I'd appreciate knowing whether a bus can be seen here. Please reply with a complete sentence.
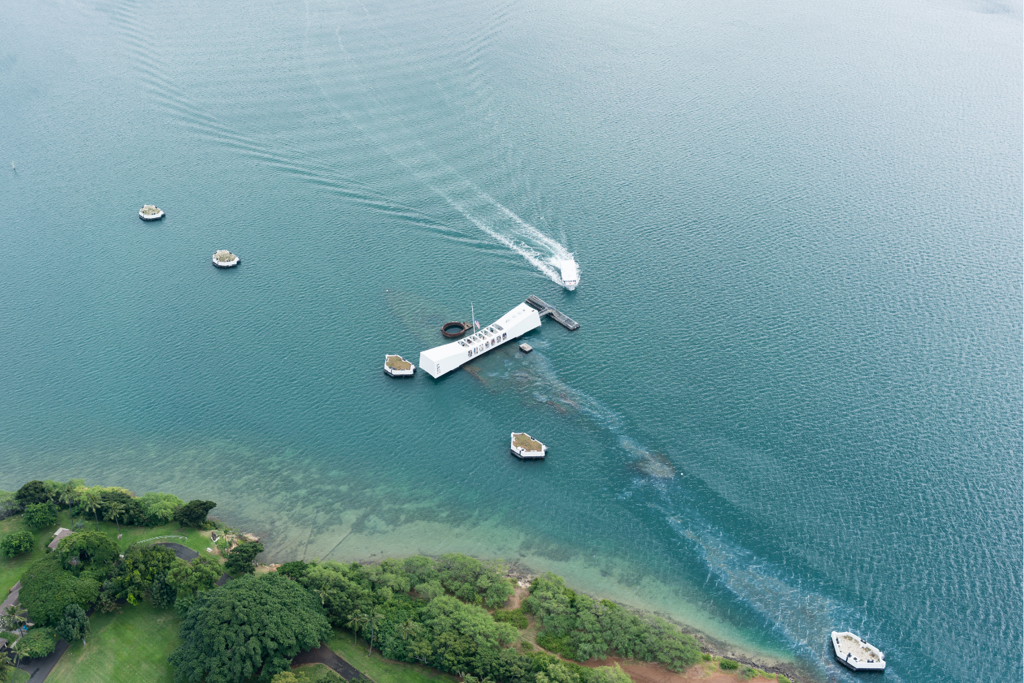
No, I find no bus anywhere in the image.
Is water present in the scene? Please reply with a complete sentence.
Yes, water can be seen from above here.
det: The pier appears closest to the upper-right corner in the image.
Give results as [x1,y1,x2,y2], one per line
[524,294,582,332]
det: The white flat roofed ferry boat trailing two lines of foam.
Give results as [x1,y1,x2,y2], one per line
[560,261,576,290]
